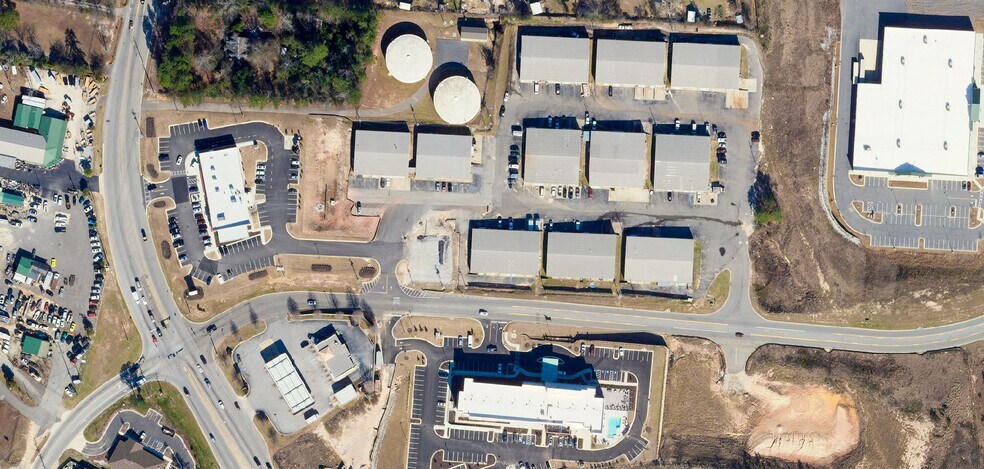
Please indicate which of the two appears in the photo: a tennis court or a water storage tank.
water storage tank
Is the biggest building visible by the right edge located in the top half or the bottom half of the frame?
top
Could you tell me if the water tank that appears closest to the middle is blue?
No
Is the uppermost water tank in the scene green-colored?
No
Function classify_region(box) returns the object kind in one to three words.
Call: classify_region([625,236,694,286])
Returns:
building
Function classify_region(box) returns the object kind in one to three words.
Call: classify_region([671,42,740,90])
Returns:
building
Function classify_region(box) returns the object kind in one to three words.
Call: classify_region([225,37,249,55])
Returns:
house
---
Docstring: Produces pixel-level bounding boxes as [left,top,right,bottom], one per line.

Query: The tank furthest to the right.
[433,76,480,123]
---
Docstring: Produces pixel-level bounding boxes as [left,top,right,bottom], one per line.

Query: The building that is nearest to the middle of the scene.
[470,229,542,277]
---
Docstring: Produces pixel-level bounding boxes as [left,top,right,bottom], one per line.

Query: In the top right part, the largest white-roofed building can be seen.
[851,26,983,177]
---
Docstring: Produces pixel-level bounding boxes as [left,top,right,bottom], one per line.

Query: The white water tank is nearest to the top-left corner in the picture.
[385,35,432,83]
